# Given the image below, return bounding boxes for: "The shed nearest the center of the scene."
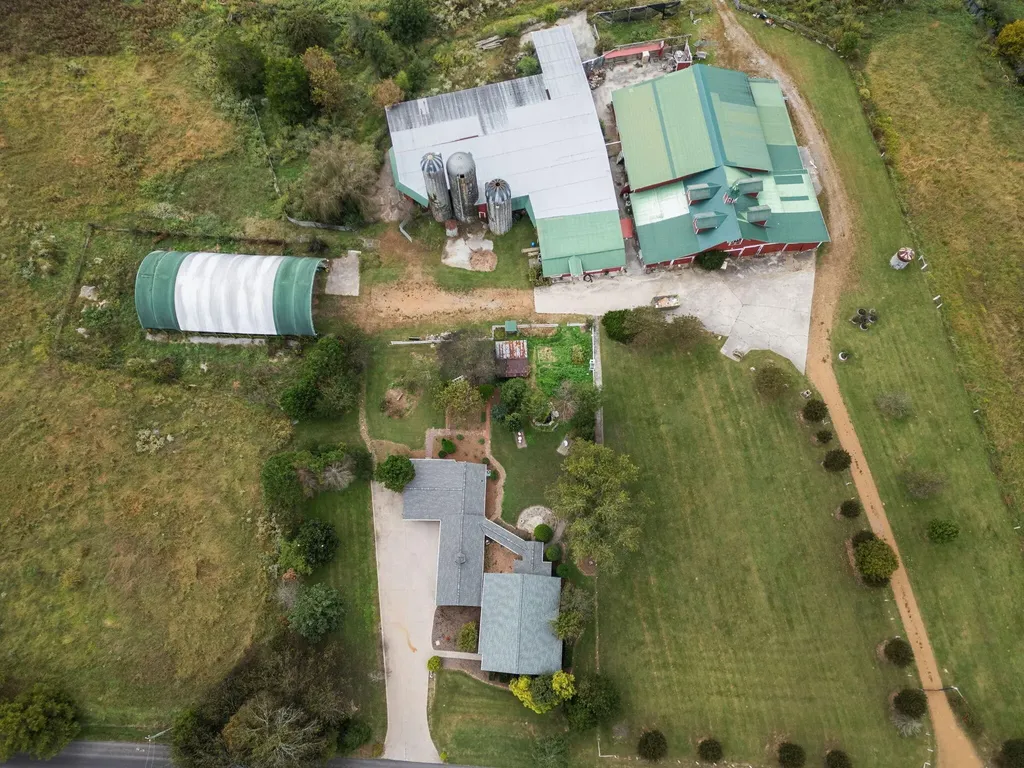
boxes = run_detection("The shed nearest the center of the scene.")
[494,340,529,381]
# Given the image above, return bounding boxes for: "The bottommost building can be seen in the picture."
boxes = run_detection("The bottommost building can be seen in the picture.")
[401,459,563,674]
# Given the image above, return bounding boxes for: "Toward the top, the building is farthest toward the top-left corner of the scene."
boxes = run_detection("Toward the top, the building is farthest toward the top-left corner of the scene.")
[134,250,329,339]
